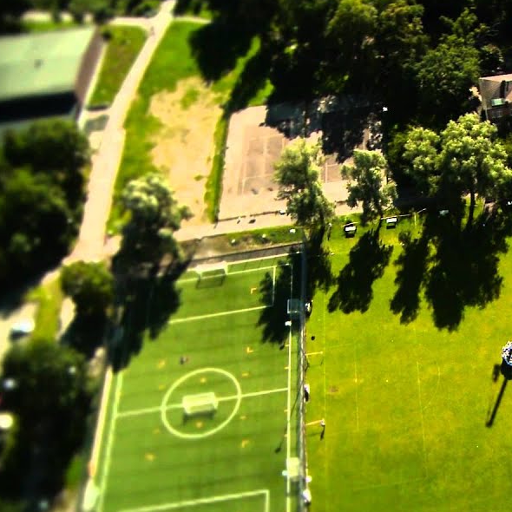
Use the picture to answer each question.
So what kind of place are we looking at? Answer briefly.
sports ground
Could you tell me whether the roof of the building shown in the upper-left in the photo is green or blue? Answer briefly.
green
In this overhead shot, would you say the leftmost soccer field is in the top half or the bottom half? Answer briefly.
bottom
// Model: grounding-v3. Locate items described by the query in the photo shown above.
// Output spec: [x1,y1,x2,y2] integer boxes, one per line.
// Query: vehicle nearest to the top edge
[10,319,36,334]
